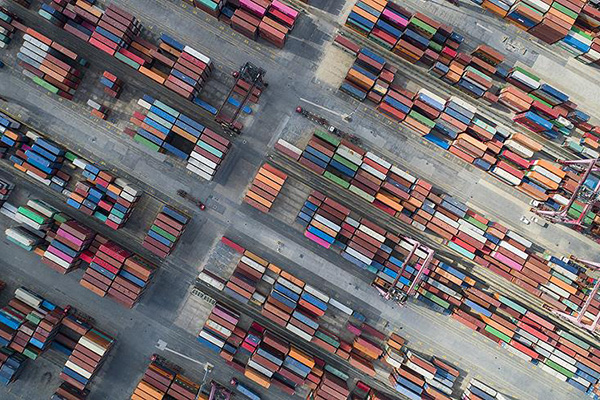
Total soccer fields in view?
zero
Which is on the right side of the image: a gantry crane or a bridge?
gantry crane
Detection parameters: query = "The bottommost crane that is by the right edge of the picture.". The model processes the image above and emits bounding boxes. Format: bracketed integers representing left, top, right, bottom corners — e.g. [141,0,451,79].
[537,253,600,334]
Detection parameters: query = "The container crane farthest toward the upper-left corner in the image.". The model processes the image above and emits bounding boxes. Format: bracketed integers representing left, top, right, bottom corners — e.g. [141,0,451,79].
[213,59,272,136]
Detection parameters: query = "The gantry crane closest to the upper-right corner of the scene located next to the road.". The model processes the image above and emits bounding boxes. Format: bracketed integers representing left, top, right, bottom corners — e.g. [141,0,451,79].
[523,151,600,221]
